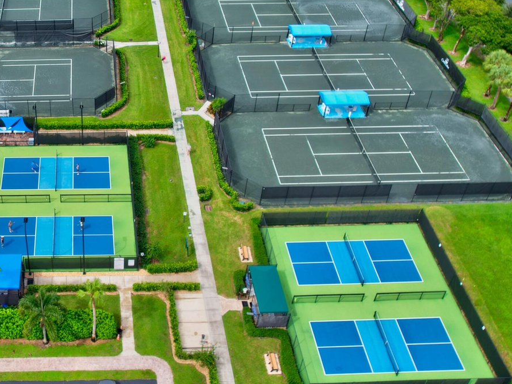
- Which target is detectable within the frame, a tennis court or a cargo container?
tennis court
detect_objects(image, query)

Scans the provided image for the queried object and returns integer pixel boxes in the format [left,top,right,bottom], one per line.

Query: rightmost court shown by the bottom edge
[309,311,466,376]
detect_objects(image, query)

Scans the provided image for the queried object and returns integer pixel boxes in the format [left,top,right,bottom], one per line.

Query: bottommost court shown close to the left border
[0,209,114,258]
